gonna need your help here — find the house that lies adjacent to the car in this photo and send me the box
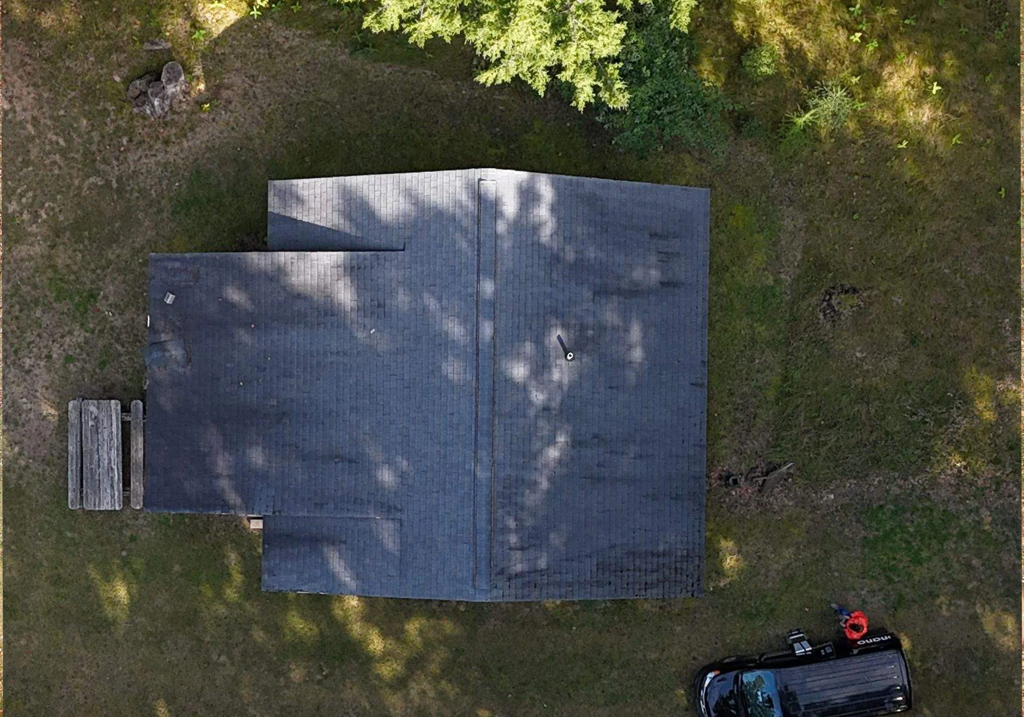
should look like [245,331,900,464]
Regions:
[142,167,711,603]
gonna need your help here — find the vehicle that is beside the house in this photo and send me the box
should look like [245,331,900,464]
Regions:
[691,626,912,717]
